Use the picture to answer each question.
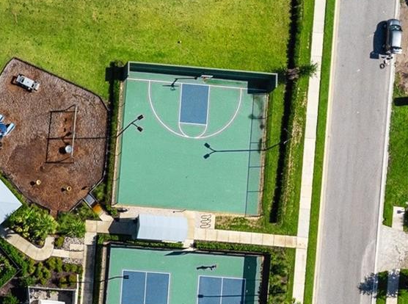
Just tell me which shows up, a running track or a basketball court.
basketball court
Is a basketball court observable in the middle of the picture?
Yes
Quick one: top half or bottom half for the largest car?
top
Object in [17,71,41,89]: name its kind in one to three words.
car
